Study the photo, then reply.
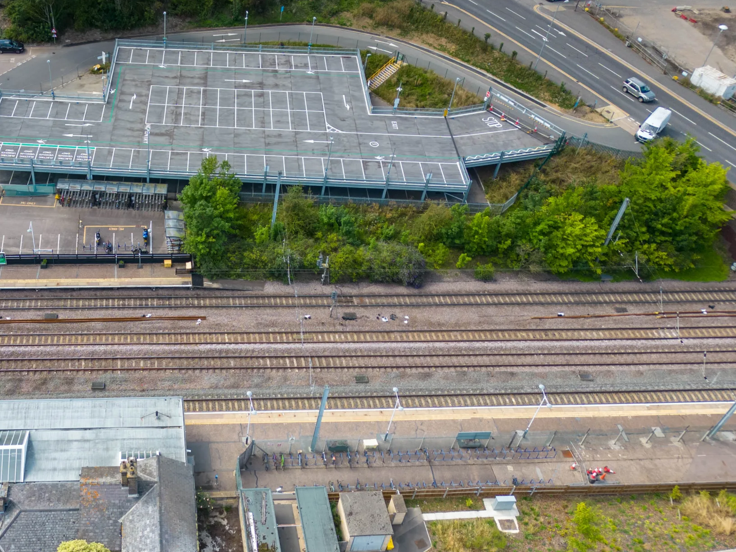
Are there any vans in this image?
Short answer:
Yes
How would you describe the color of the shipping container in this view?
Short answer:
white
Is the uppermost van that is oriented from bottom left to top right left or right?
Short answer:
right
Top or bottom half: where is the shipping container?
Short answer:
top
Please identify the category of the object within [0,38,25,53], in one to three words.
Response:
car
